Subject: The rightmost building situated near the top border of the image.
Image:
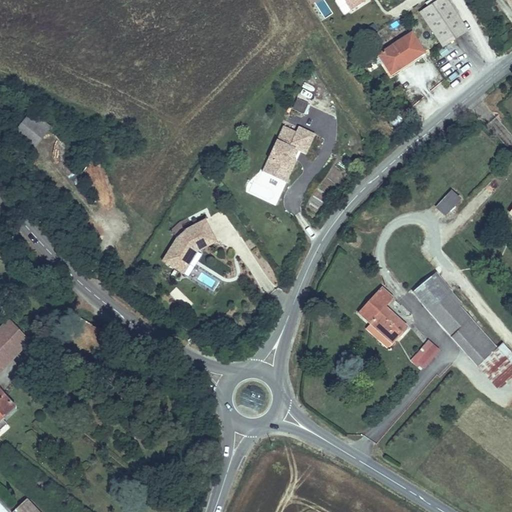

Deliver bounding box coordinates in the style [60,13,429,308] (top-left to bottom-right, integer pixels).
[420,0,468,48]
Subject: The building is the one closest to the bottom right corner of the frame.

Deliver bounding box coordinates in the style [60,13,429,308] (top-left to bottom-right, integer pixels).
[479,344,512,389]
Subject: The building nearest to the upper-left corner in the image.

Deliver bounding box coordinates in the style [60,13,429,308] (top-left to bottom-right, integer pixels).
[19,112,52,148]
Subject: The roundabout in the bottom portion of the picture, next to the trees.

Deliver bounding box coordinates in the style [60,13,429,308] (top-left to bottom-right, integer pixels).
[208,350,300,449]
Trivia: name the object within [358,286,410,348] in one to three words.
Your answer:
house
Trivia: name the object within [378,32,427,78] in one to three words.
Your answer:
house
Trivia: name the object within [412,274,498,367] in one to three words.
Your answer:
barn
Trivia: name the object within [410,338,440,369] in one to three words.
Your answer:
shed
